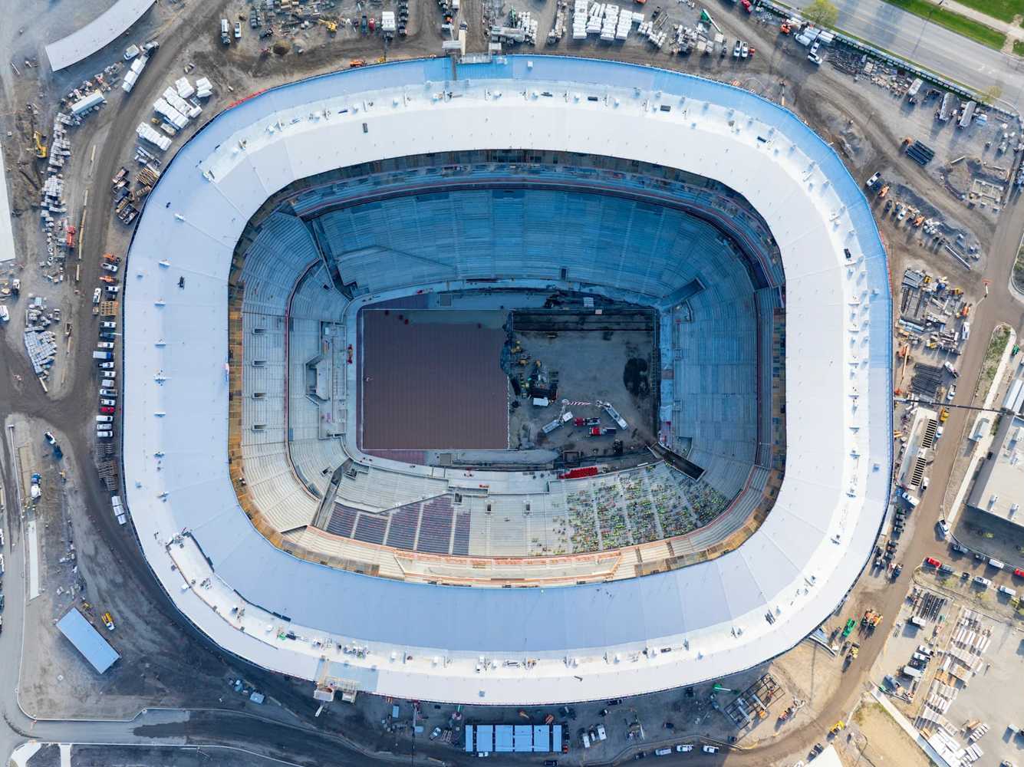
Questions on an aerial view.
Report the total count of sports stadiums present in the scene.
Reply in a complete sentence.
In total, 1 sports stadium can be seen.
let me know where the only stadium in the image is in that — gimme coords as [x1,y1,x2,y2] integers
[120,52,896,708]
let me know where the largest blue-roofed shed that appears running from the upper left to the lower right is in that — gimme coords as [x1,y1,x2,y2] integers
[56,604,127,673]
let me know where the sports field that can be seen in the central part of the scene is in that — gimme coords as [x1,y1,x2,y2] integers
[358,296,656,465]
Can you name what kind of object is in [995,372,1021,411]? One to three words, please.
shed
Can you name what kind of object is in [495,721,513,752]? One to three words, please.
building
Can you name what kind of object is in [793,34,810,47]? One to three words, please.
vehicle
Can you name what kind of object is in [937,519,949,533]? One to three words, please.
vehicle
